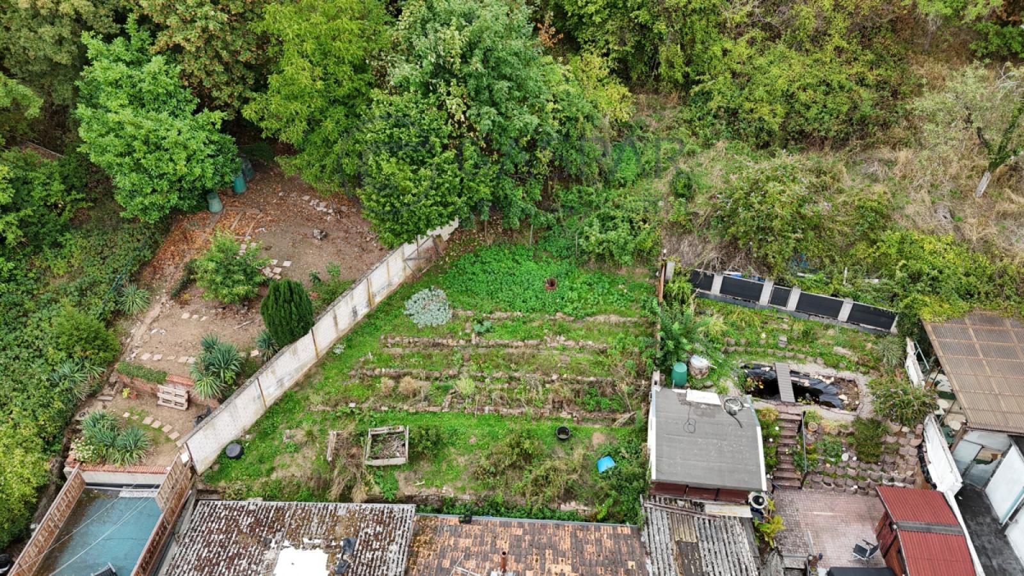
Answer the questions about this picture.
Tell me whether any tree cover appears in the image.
Yes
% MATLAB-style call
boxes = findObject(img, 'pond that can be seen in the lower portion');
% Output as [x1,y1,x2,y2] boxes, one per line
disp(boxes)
[740,364,867,418]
